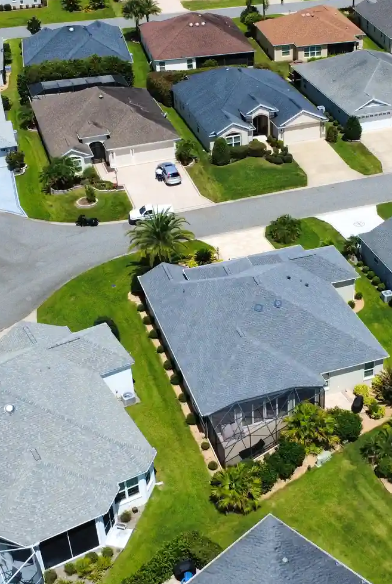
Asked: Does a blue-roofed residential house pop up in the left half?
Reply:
Yes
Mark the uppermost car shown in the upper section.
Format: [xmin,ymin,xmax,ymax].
[158,160,179,181]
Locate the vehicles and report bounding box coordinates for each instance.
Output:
[130,201,179,224]
[77,214,97,225]
[158,160,179,181]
